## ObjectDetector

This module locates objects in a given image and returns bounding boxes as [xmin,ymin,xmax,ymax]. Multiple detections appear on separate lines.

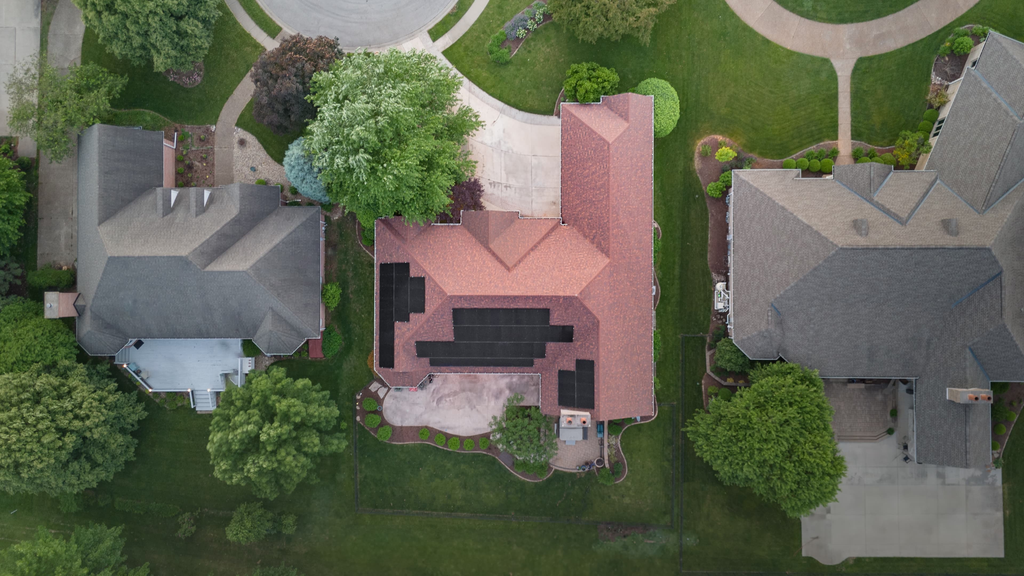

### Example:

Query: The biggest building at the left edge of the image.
[44,124,326,356]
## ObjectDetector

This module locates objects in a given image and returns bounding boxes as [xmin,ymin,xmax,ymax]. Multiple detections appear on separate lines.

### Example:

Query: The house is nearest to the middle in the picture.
[373,93,656,427]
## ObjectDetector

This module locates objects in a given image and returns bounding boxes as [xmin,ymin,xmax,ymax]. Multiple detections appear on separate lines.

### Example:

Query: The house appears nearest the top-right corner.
[727,30,1024,468]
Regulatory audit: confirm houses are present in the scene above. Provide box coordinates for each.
[373,93,656,427]
[727,30,1024,468]
[44,124,326,356]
